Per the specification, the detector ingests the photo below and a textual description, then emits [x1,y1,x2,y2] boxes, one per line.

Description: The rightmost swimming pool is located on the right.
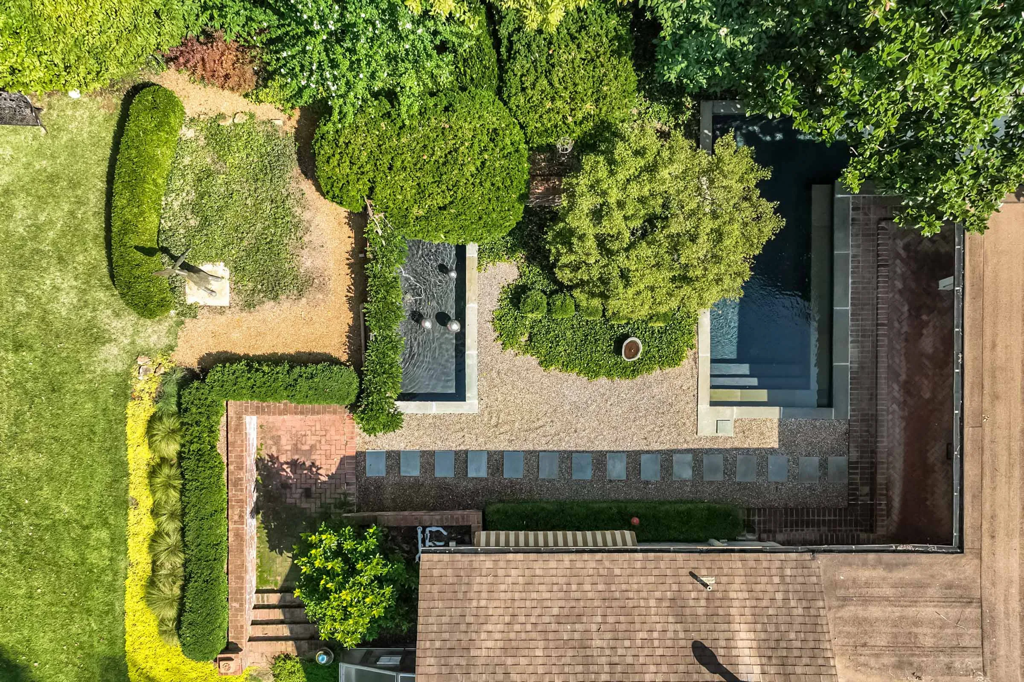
[698,101,899,435]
